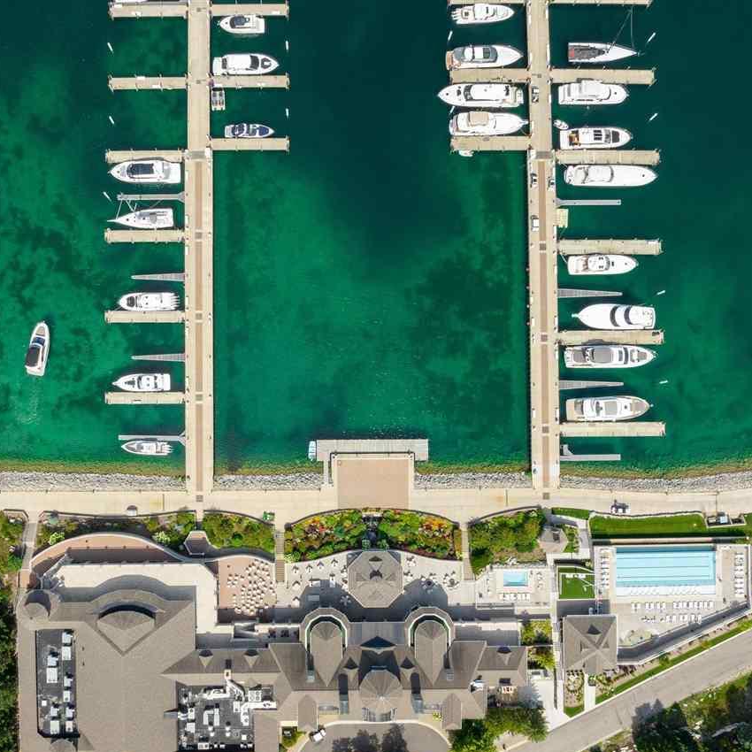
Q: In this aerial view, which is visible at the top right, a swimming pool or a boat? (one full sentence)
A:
The one visible at the top right is a boat.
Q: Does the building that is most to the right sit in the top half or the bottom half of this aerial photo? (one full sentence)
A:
You can find the building that is most to the right in the bottom half.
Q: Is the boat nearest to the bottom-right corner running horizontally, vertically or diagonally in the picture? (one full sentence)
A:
From this overhead view, the boat nearest to the bottom-right corner appears to run horizontally.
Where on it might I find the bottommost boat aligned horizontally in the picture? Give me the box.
[122,440,173,456]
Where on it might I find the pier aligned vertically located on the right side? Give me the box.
[447,0,665,487]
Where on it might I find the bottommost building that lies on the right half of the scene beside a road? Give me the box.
[558,613,618,676]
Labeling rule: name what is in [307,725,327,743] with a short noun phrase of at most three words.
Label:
car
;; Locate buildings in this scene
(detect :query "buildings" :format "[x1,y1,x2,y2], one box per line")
[347,550,404,607]
[17,546,528,752]
[539,525,567,553]
[558,613,618,676]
